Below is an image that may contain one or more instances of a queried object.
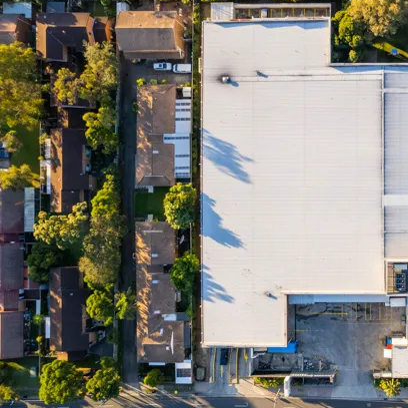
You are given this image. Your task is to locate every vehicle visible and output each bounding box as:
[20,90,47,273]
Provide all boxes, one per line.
[218,348,230,369]
[171,62,194,73]
[152,60,173,71]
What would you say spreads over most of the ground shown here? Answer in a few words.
buildings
